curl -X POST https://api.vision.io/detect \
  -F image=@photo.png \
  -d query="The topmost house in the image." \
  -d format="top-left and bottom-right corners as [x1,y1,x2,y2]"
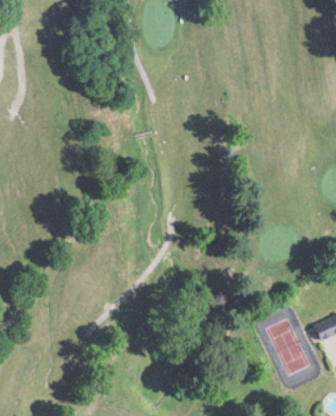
[314,312,336,340]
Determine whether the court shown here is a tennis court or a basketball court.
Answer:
tennis court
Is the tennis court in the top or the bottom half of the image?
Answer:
bottom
